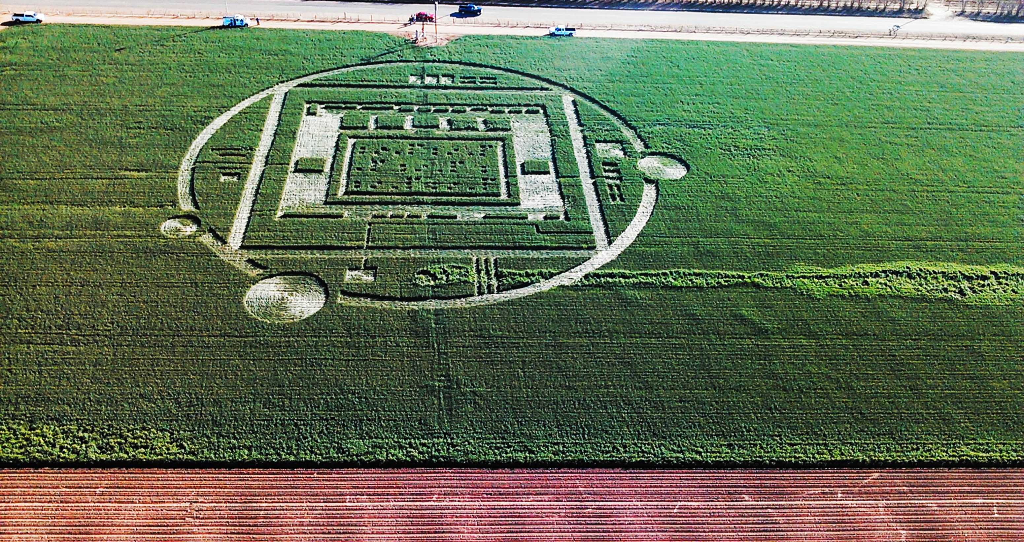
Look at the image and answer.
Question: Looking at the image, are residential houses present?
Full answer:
No, there is no residential house in the image.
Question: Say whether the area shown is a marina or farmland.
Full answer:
What you see here is farmland.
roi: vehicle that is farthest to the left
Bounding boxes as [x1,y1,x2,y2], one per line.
[12,12,43,24]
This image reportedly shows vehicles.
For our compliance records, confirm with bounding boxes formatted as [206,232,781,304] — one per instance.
[458,3,483,14]
[222,12,252,26]
[12,12,43,24]
[550,25,576,36]
[415,11,435,20]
